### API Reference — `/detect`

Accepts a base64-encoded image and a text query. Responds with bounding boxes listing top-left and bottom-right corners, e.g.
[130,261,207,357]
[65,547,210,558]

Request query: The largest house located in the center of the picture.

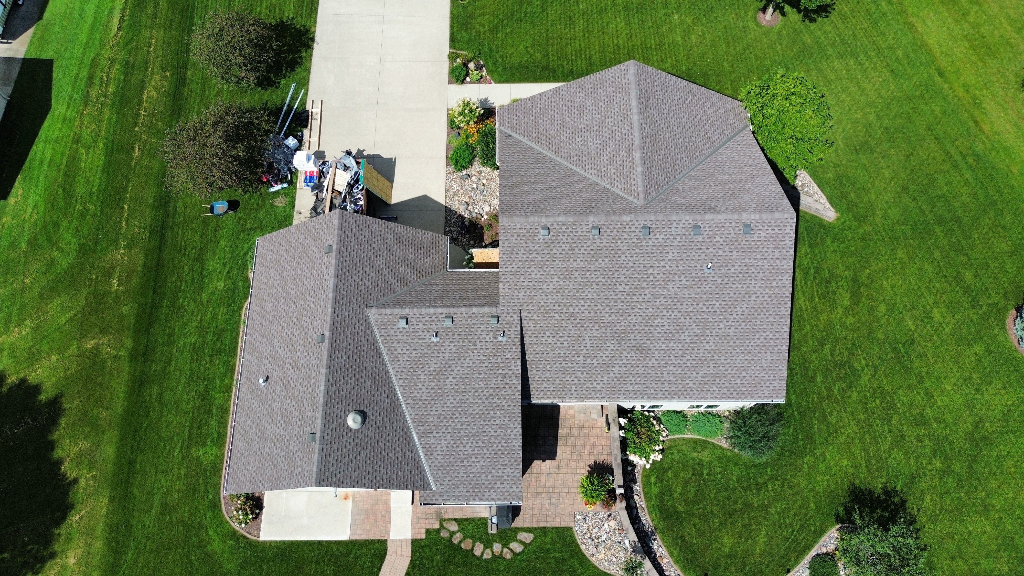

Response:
[224,60,796,507]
